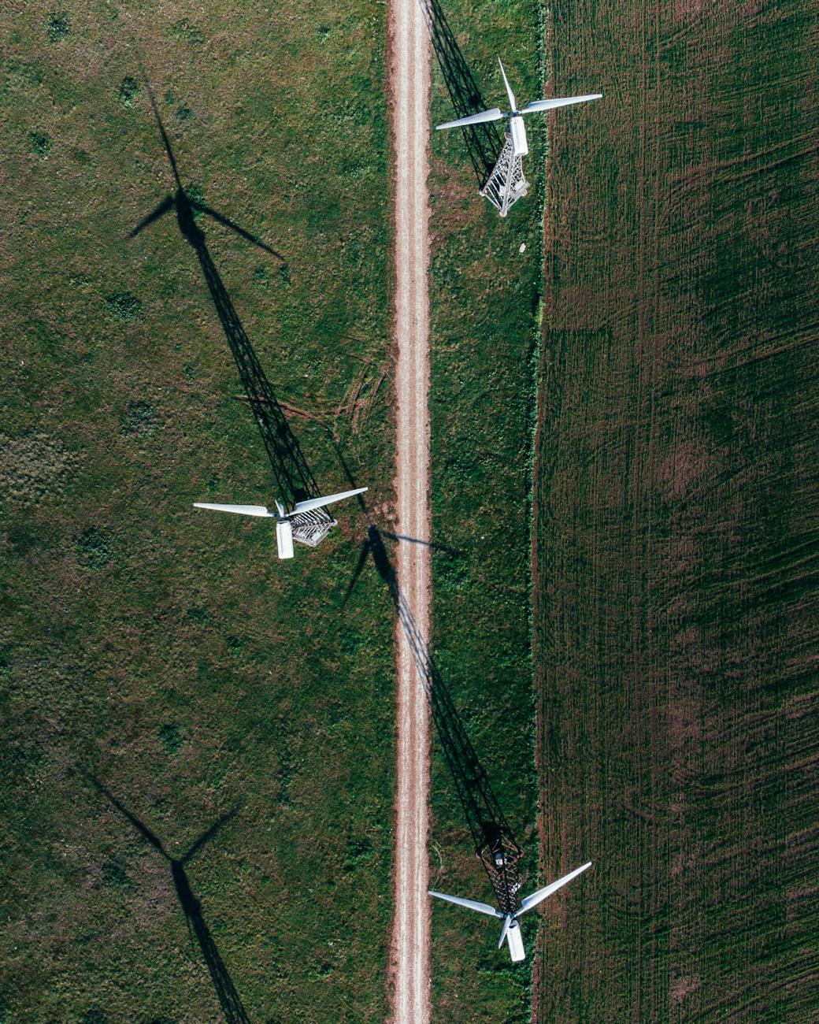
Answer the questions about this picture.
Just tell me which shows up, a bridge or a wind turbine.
wind turbine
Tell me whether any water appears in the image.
No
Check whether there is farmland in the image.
Yes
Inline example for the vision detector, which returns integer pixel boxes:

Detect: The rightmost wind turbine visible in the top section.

[435,61,605,219]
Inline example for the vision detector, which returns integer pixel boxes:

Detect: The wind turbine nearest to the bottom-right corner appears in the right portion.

[429,827,591,960]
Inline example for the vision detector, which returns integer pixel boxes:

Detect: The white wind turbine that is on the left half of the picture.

[197,489,364,557]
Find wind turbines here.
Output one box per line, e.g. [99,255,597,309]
[197,489,364,557]
[435,61,605,219]
[429,827,591,960]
